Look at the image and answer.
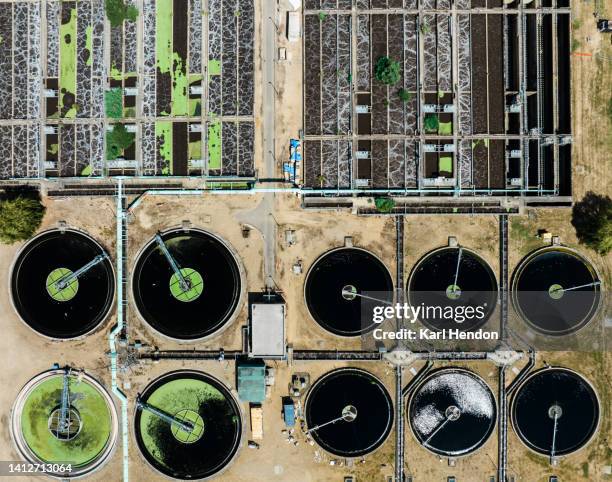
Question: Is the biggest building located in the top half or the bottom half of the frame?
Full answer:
Seen from above, the biggest building lies in the bottom half of the view.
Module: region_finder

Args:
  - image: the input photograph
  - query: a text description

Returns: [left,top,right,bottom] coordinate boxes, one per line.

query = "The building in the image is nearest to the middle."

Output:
[252,301,287,357]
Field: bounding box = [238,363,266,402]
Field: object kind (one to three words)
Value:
shed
